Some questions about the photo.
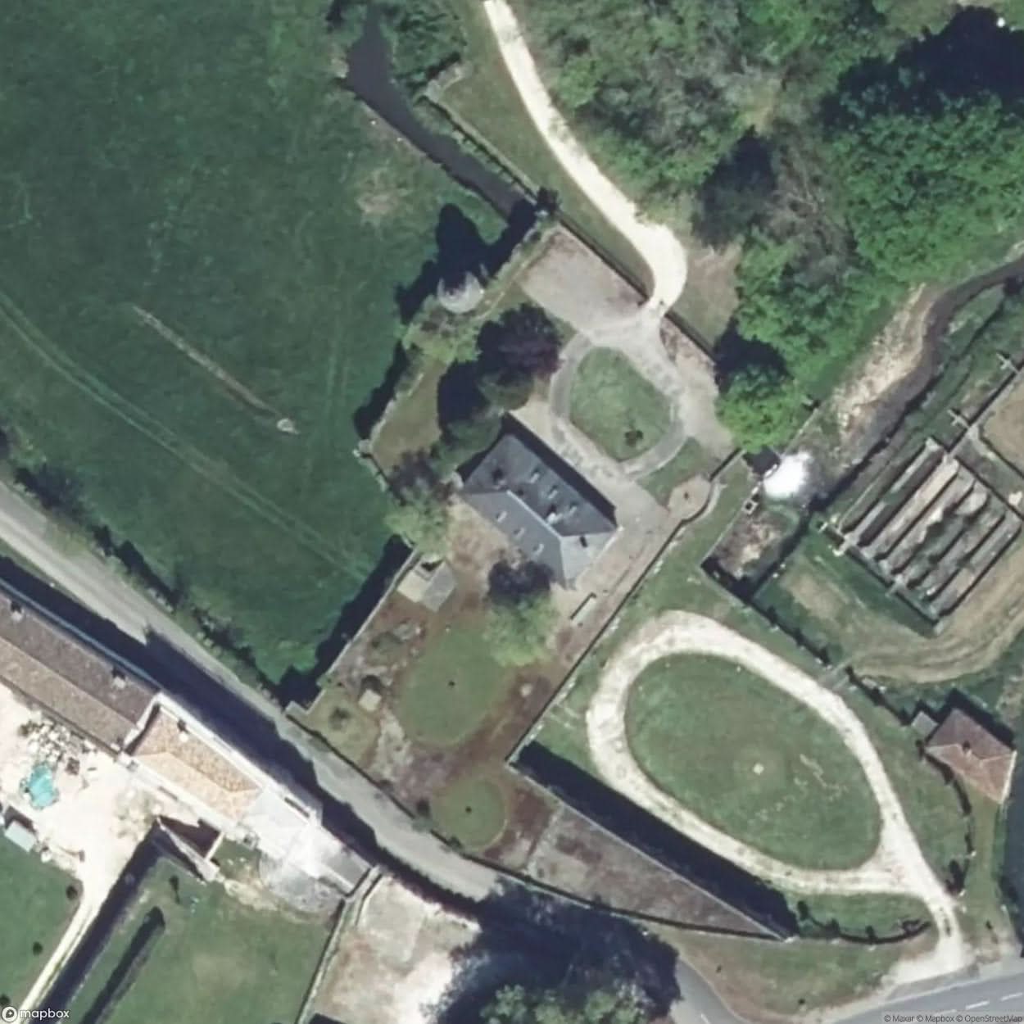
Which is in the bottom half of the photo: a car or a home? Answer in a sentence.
The feature located in the bottom half of the photo is a home.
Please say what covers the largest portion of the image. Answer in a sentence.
The bulk of the photo consists of grass.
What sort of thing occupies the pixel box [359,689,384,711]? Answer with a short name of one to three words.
shed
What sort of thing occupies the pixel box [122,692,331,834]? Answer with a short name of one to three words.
house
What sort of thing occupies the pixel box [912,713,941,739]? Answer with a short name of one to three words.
shed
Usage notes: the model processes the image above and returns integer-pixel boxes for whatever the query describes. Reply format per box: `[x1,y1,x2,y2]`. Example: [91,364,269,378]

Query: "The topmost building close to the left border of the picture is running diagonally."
[0,579,164,758]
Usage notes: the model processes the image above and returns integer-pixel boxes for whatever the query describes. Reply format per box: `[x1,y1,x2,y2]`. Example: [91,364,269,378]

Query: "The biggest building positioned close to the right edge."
[925,708,1021,805]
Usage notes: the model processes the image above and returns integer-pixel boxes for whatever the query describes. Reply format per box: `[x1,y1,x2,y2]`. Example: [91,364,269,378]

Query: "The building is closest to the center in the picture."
[460,432,620,584]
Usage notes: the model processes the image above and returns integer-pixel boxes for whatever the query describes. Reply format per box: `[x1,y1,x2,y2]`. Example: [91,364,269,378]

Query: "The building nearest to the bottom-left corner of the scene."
[7,821,41,851]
